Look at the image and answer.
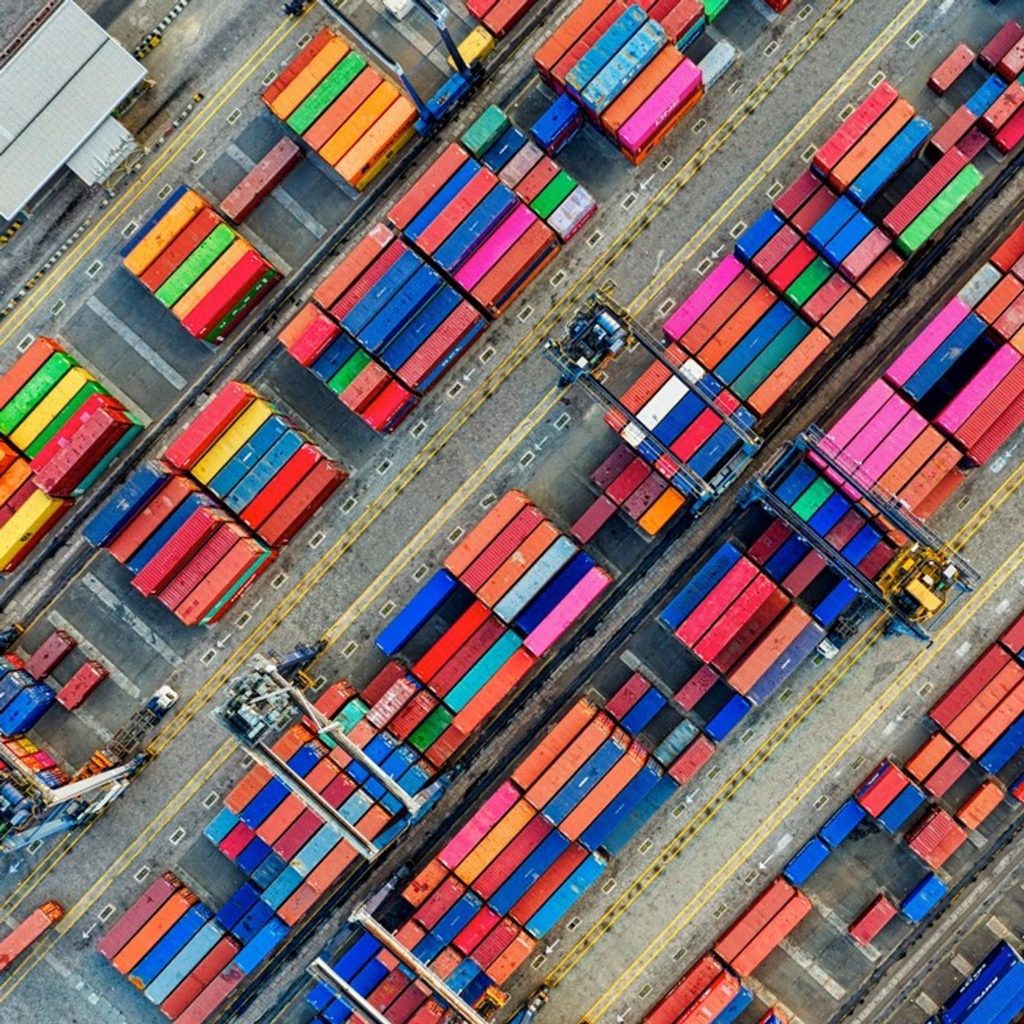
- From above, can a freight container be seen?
Yes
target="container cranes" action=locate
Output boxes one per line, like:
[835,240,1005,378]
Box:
[741,424,983,647]
[285,0,487,142]
[0,726,153,871]
[304,853,557,1024]
[551,293,770,511]
[208,633,469,864]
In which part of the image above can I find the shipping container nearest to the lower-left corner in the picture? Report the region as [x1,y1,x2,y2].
[0,904,60,981]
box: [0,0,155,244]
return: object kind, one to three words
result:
shed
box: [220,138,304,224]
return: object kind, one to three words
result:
shipping container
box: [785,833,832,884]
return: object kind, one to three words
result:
shipping container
